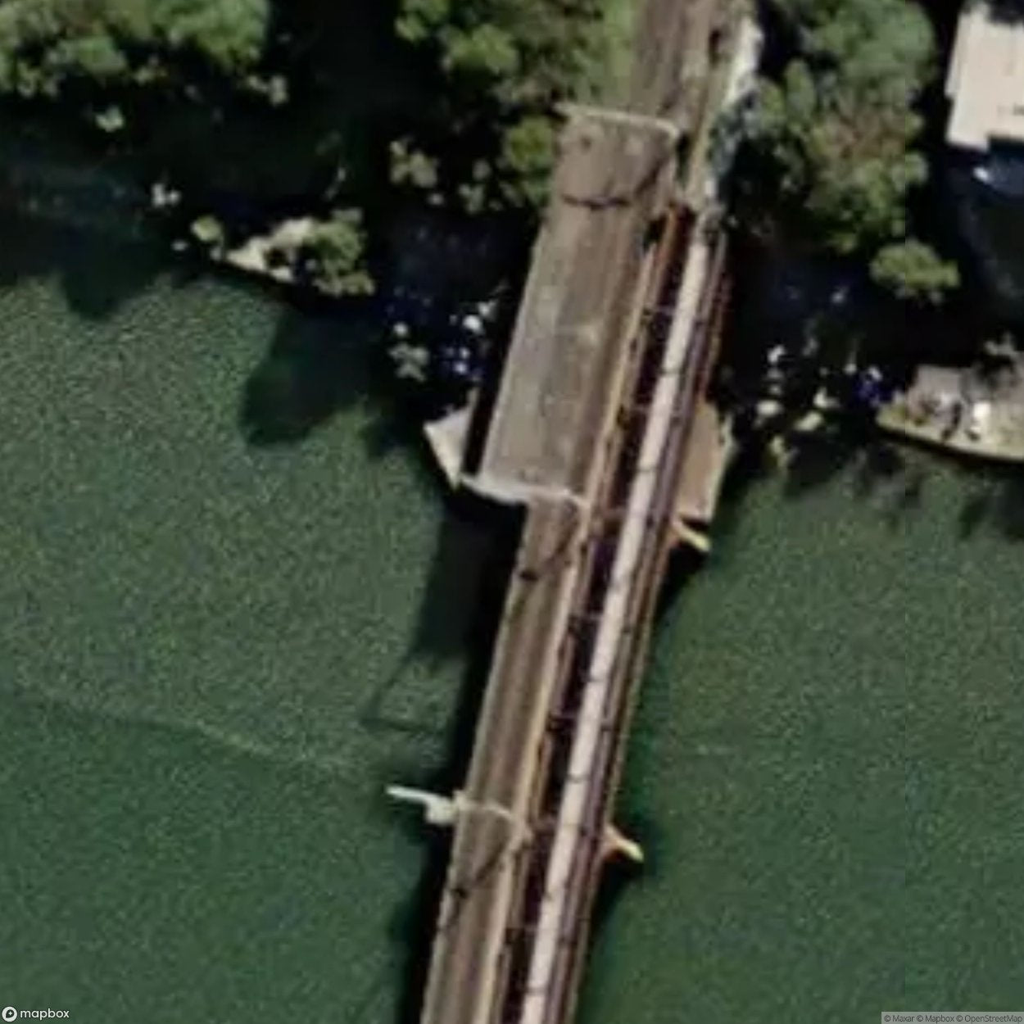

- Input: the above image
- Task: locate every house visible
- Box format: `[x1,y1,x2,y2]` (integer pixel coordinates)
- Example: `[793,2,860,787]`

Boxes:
[945,3,1024,162]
